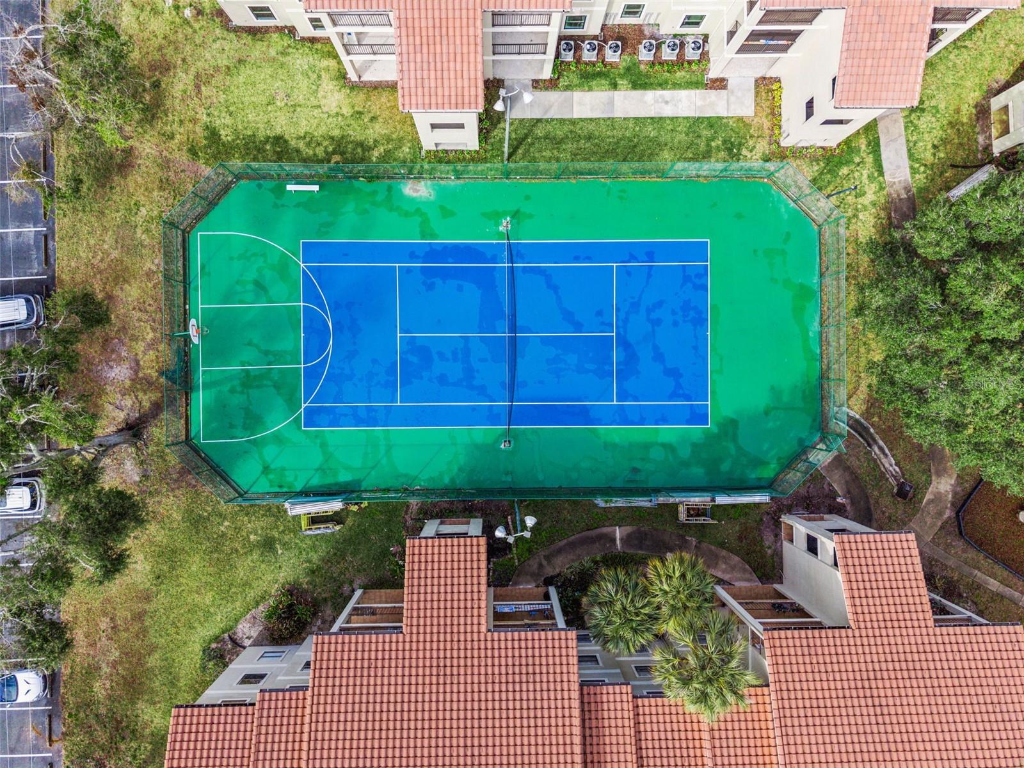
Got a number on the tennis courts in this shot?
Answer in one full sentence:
I count 1 tennis court.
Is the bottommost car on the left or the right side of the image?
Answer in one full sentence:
You can find the bottommost car on the left side of the picture.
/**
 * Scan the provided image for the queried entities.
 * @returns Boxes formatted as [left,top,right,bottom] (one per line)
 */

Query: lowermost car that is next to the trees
[0,663,55,706]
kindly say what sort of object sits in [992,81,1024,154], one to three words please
building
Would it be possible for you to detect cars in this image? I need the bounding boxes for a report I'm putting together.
[0,477,49,513]
[0,295,49,333]
[0,663,55,706]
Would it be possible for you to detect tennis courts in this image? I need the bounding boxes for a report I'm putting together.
[189,181,820,494]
